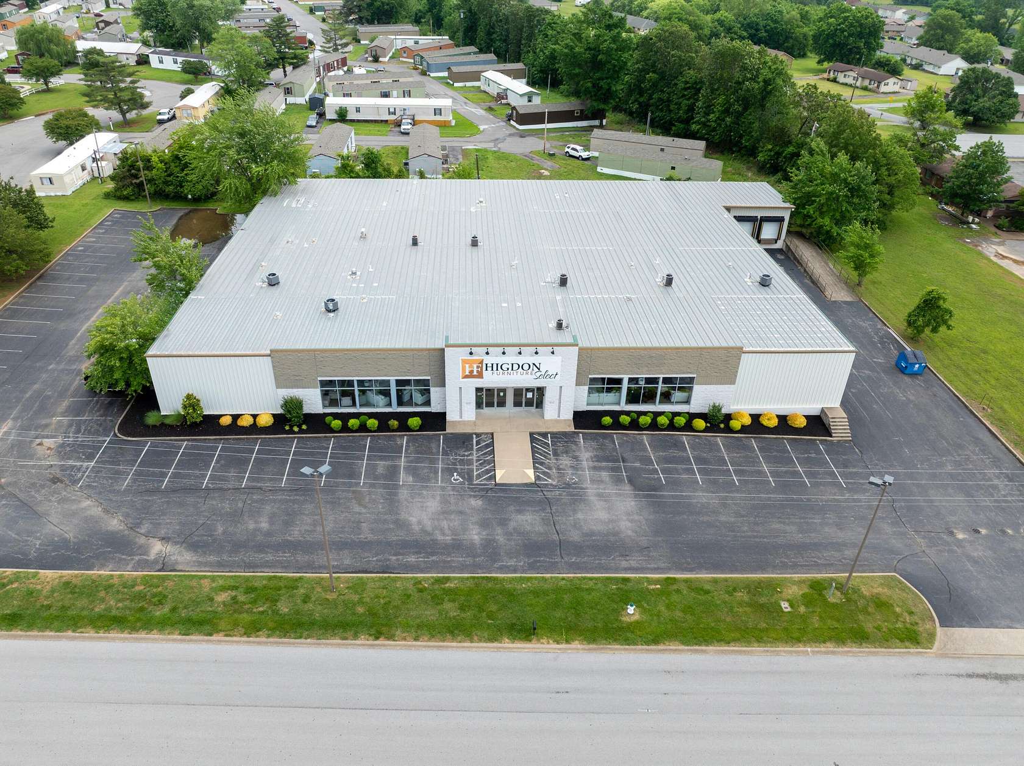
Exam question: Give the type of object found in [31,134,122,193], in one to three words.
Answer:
house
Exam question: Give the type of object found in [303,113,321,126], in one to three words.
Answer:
vehicle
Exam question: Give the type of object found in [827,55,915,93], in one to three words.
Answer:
house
